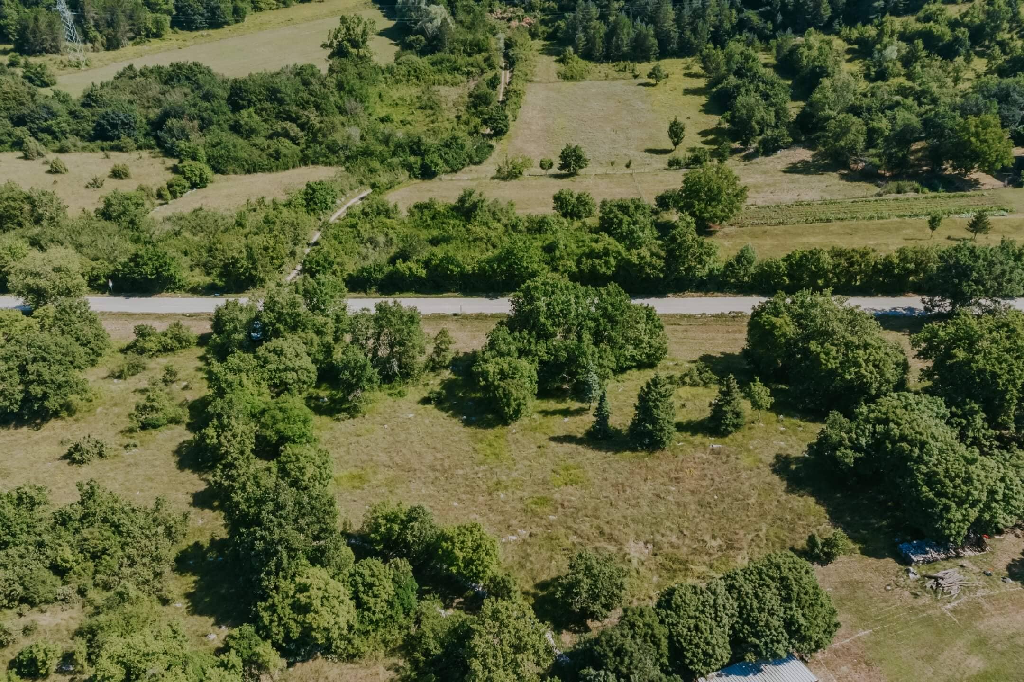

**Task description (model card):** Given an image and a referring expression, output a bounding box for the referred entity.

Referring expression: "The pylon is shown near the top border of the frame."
[40,0,84,63]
